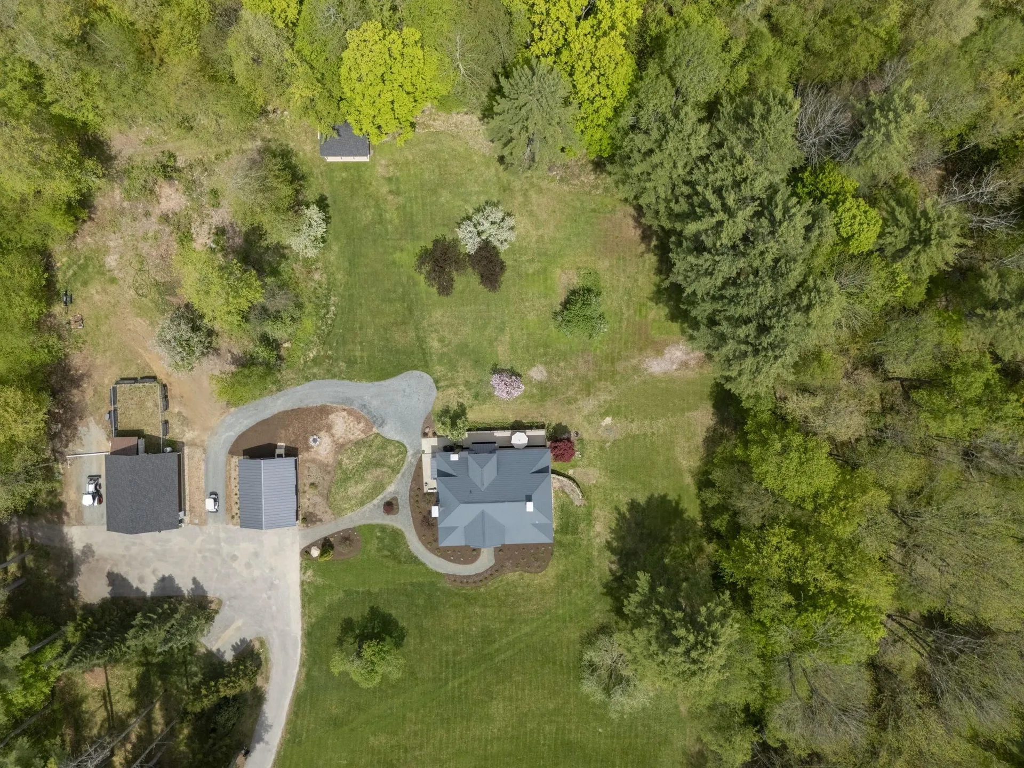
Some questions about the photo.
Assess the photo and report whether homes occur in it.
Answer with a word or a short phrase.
Yes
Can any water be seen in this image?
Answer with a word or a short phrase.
No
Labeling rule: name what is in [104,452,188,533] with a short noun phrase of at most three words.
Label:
barn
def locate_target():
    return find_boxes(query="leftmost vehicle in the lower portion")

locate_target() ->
[81,473,103,505]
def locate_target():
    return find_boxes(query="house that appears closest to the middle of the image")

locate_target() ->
[431,441,554,549]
